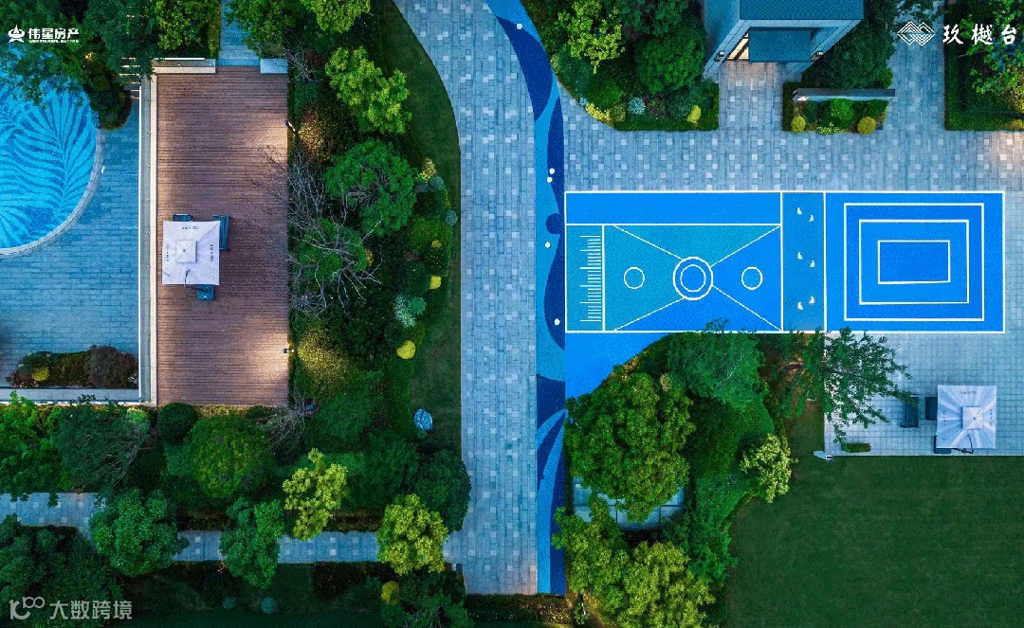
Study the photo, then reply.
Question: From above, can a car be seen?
No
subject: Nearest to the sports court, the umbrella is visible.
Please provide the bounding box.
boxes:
[934,386,996,453]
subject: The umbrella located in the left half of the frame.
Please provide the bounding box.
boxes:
[161,223,222,300]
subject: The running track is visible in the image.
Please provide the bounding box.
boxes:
[487,0,565,592]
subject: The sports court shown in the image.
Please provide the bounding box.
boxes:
[565,191,1004,406]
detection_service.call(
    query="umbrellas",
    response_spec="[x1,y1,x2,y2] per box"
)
[161,223,222,300]
[934,386,996,453]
